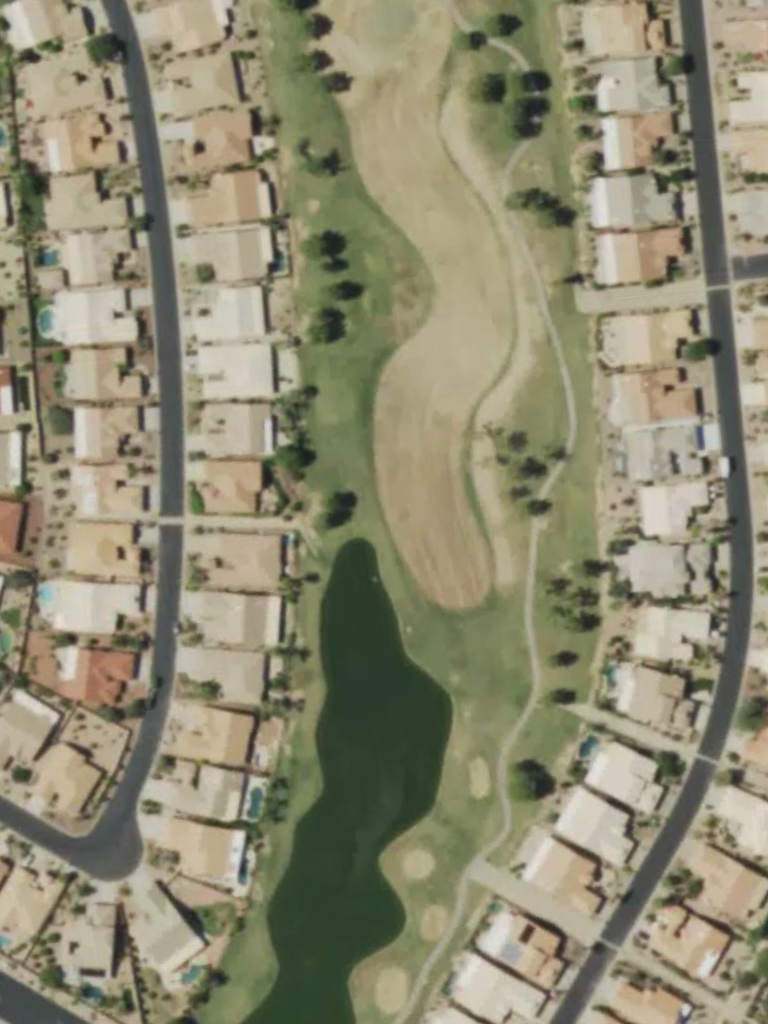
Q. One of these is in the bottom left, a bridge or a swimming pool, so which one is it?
swimming pool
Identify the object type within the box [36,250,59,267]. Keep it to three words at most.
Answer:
swimming pool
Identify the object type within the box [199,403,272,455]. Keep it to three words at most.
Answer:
house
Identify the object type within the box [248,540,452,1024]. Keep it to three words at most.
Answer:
pond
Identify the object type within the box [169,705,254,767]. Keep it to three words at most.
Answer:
house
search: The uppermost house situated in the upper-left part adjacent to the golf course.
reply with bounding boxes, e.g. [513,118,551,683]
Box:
[155,0,231,51]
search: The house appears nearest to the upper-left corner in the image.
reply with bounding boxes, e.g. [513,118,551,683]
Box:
[7,0,89,49]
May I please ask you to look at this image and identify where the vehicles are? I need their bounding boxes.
[719,457,729,476]
[172,624,178,633]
